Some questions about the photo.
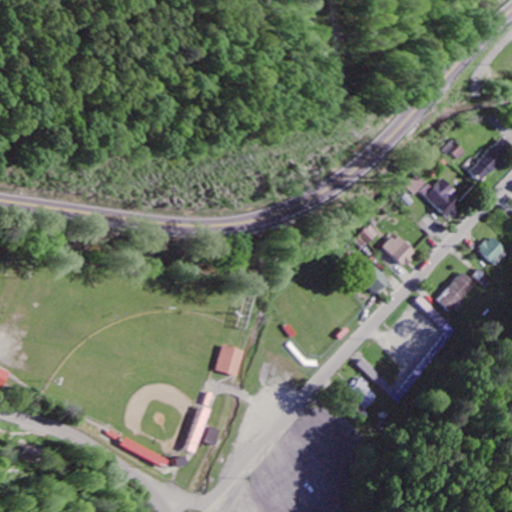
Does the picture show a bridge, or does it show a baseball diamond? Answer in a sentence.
There is a baseball diamond in the scene.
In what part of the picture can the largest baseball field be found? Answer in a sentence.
The largest baseball field appears toward the bottom left of the photo.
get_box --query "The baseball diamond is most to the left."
[44,309,222,455]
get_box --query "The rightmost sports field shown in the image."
[276,290,360,357]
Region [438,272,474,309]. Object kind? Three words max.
house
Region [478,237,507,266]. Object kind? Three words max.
house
